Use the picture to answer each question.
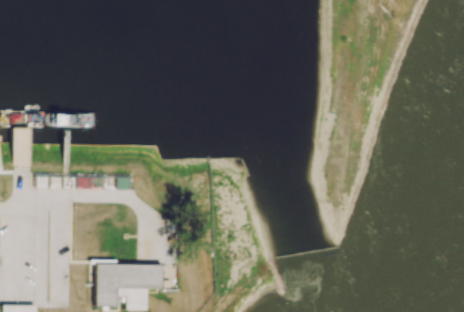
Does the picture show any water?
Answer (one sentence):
Yes, the picture does contain water.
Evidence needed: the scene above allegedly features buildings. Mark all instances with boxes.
[2,305,37,312]
[96,264,163,312]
